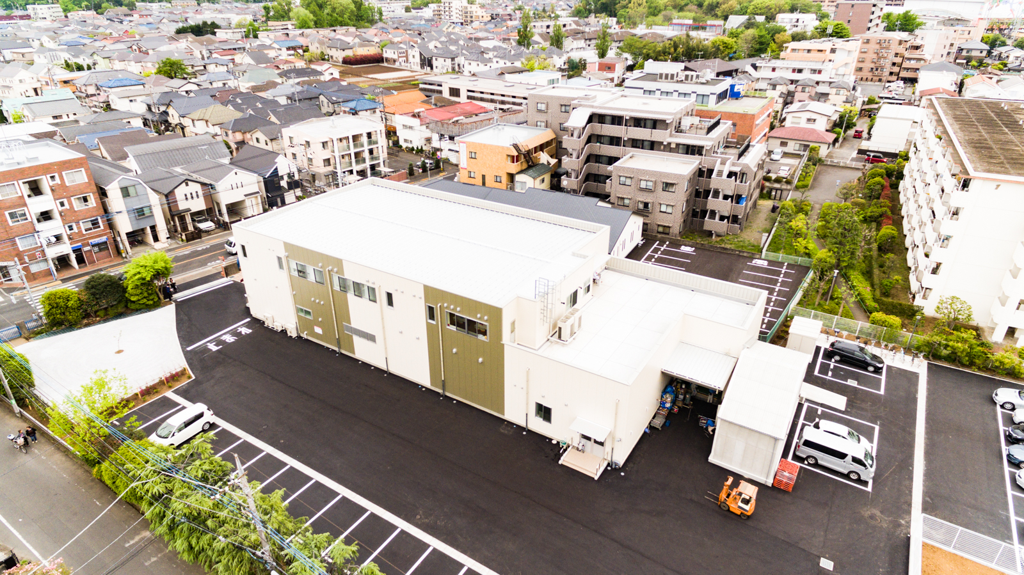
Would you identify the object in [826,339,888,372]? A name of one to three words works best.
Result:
car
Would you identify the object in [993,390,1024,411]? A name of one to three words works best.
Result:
car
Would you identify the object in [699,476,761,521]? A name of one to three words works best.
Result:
work vehicle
